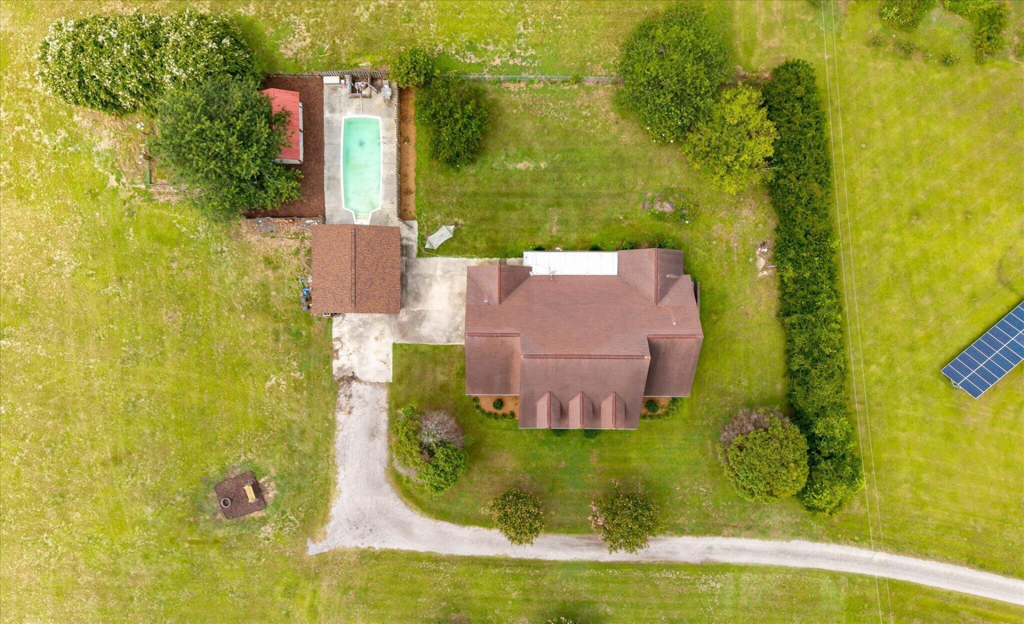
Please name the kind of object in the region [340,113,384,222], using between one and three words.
swimming pool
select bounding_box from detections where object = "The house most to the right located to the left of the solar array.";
[464,248,701,430]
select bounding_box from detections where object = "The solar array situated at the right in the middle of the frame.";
[941,297,1024,398]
